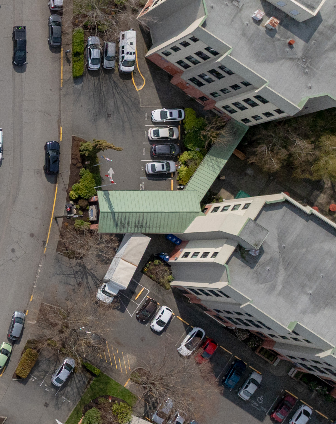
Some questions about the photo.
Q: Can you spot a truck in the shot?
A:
Yes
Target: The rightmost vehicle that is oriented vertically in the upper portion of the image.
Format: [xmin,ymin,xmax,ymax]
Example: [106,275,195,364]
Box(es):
[115,27,139,74]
